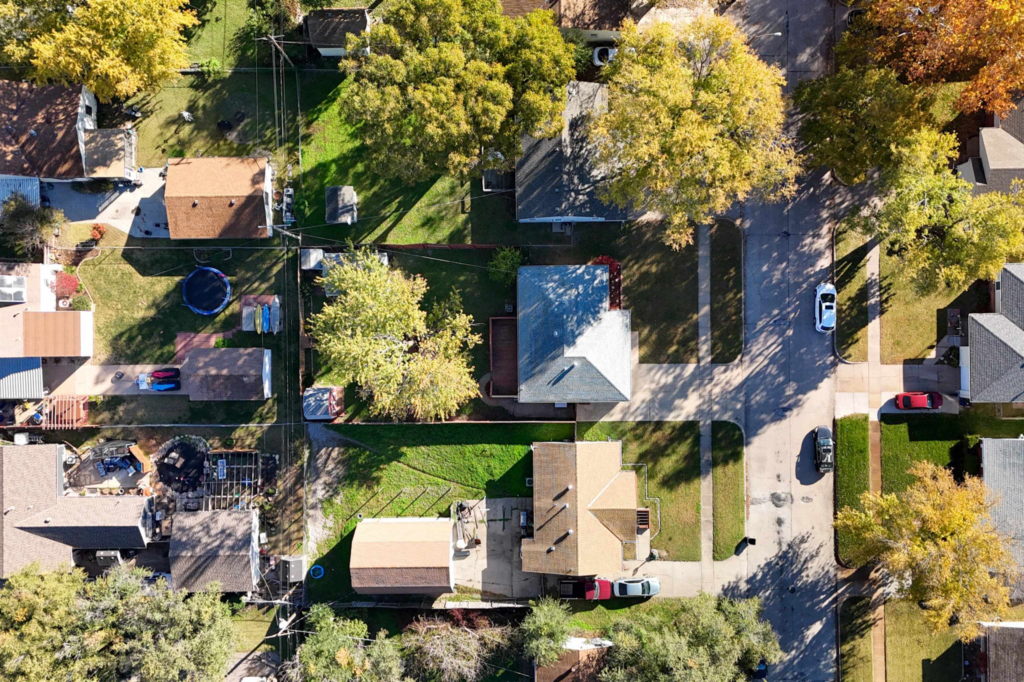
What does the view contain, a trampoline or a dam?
trampoline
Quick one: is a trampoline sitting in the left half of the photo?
Yes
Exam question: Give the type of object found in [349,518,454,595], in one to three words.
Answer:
building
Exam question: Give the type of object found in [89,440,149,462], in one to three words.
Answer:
gazebo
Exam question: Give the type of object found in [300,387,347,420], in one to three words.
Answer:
shed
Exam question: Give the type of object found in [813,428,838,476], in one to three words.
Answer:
car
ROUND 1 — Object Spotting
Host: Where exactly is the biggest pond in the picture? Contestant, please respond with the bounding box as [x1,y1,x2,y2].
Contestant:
[147,430,211,509]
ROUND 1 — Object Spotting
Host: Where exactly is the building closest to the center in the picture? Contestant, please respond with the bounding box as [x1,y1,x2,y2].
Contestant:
[517,264,632,403]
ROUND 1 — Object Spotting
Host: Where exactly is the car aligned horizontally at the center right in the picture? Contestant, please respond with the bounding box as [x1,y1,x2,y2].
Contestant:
[895,390,943,413]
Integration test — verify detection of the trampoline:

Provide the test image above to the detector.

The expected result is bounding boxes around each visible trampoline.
[182,268,230,315]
